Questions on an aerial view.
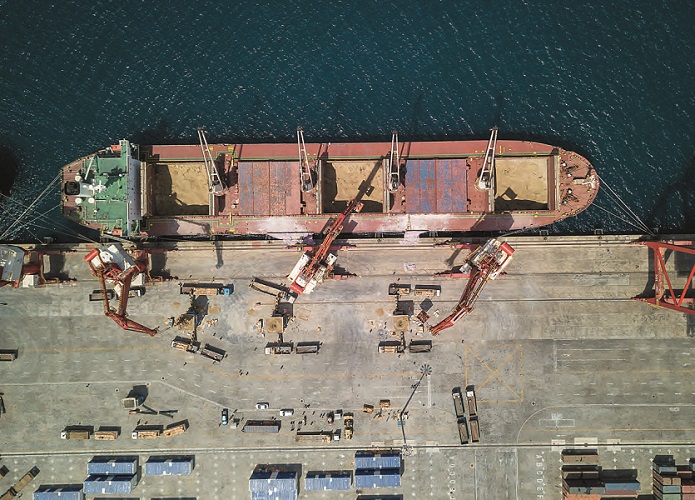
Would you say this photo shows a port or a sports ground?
port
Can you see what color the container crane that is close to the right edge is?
red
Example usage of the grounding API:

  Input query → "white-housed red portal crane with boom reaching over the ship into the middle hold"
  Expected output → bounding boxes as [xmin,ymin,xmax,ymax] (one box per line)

[285,198,362,299]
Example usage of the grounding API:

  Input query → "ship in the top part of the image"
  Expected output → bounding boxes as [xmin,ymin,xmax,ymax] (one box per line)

[60,124,601,247]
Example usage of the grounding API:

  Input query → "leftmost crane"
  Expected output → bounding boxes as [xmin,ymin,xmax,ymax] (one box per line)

[0,239,74,293]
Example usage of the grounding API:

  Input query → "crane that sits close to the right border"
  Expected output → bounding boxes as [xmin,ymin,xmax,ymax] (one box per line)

[629,242,695,315]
